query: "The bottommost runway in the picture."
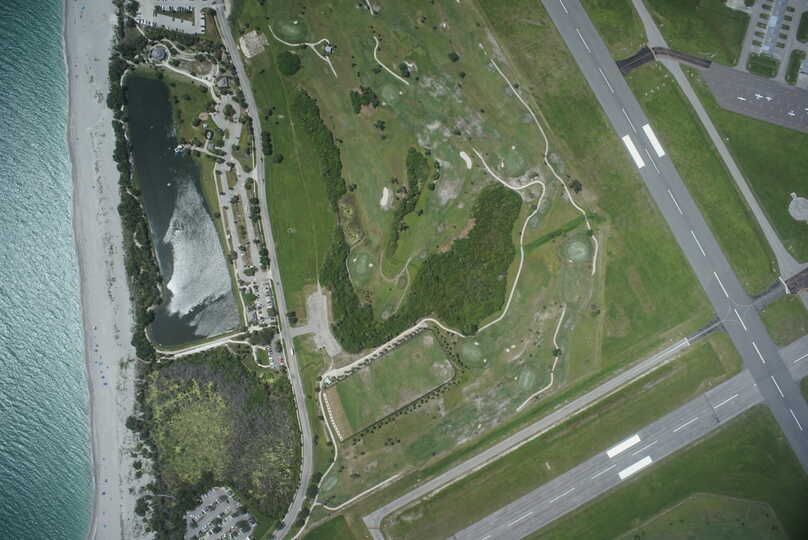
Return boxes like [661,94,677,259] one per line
[445,369,765,540]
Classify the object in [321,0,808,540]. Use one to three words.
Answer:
airport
